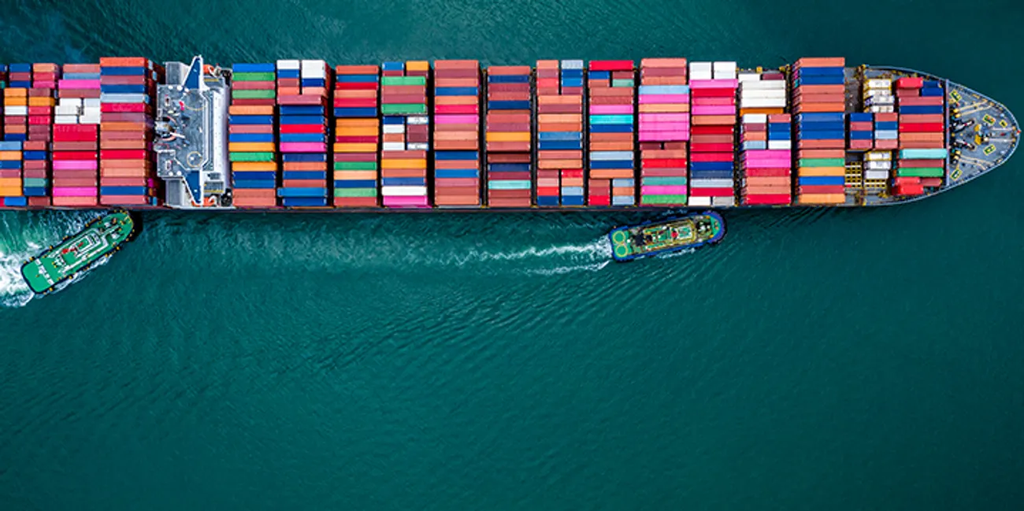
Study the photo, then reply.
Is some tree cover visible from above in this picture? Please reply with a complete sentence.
No, there's no tree cover in this view.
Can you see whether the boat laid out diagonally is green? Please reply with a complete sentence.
Yes, green is the color of the boat laid out diagonally.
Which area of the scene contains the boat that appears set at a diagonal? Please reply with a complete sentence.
The boat that appears set at a diagonal sits in the left section of the image.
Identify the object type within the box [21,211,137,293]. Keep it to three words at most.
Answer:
boat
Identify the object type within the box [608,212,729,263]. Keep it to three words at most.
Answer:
boat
